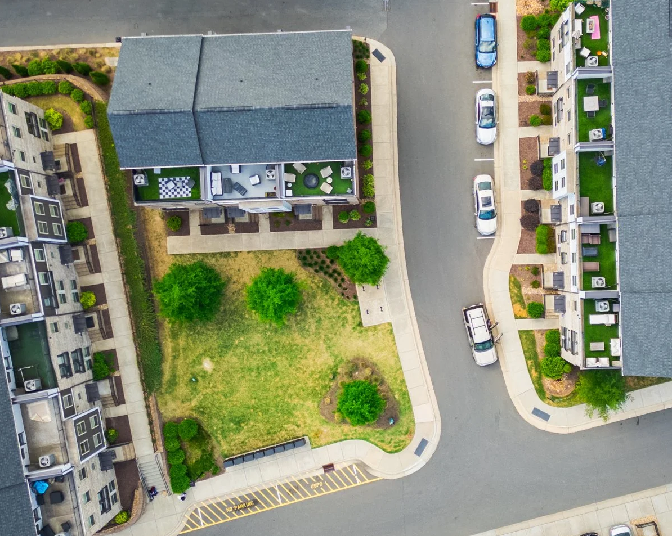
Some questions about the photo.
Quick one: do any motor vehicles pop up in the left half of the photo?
No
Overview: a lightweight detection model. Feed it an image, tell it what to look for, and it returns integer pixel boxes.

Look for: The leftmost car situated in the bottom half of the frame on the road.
[464,305,502,365]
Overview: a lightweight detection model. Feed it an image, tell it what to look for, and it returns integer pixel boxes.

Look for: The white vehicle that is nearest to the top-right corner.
[474,88,500,144]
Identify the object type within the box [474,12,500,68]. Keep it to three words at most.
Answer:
car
